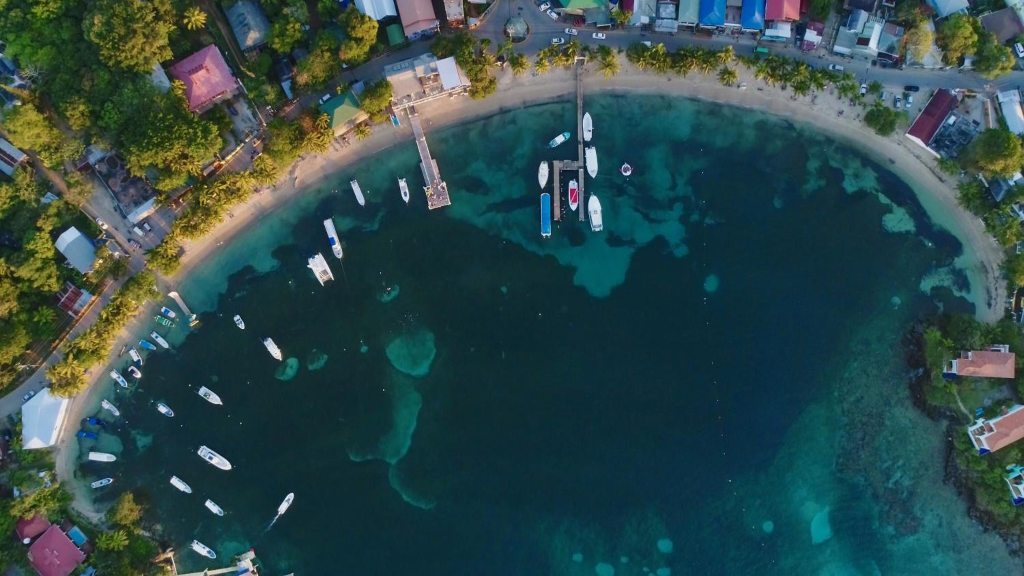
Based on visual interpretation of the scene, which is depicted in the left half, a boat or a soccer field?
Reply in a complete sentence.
The feature located in the left half is a boat.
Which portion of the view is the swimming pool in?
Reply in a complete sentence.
You can find the swimming pool in the bottom left area of the picture.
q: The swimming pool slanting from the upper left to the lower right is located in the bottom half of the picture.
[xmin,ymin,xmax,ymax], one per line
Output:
[64,518,92,559]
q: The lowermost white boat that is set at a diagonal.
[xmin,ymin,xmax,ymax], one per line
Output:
[188,538,216,558]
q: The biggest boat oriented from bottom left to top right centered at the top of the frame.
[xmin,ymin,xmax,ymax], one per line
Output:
[548,133,570,149]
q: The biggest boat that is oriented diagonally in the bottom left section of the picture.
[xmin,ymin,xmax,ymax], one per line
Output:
[197,445,232,470]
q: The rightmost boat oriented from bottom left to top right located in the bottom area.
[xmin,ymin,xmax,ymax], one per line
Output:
[278,492,295,514]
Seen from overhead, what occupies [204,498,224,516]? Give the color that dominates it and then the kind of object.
white boat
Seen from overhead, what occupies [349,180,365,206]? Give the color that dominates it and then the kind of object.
white boat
